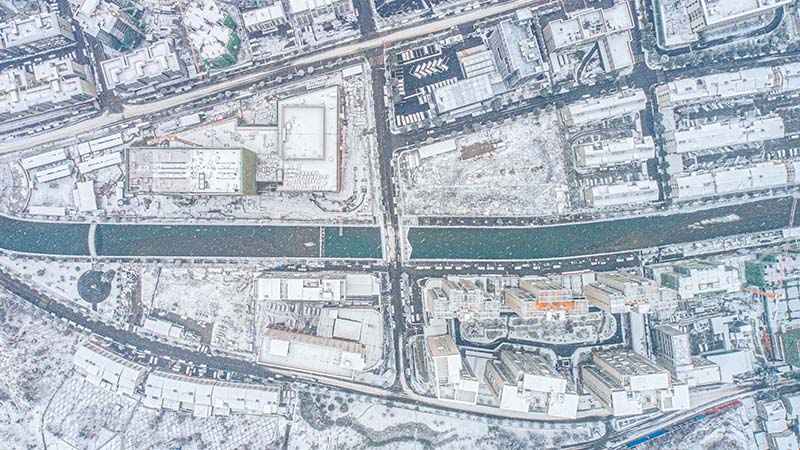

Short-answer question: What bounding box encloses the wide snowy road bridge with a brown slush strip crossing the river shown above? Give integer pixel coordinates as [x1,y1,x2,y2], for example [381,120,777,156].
[381,225,412,260]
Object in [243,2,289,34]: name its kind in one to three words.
building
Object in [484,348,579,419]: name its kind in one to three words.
building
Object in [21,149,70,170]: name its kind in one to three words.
shed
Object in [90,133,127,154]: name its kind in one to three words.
shed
